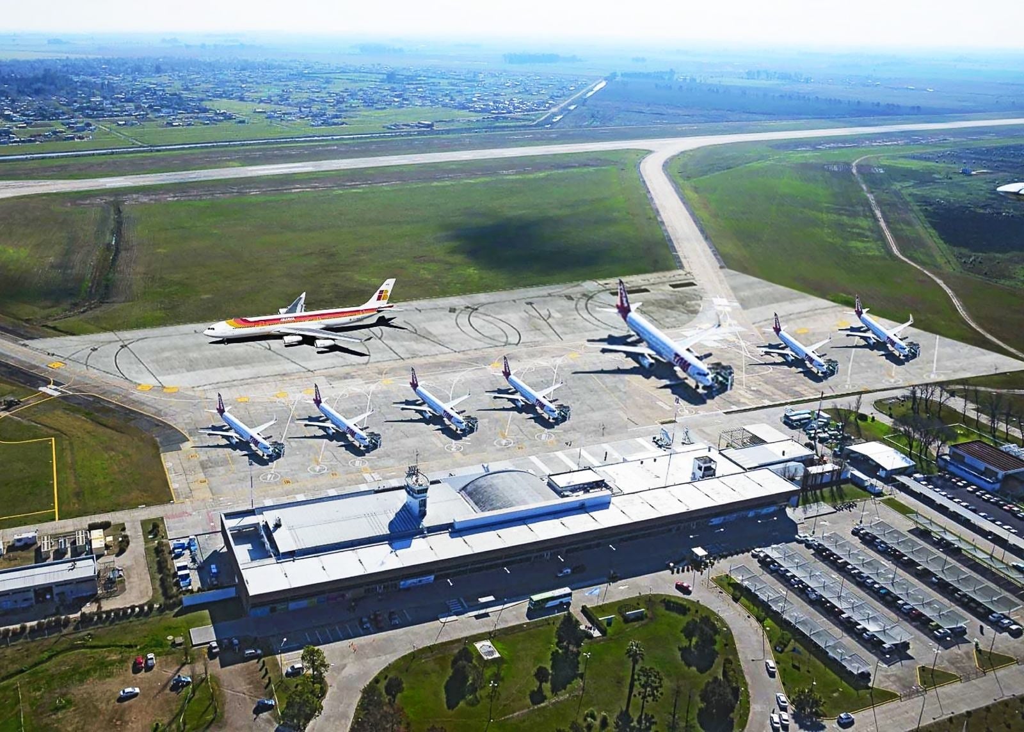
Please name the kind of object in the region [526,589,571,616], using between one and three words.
bus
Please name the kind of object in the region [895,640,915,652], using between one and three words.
vehicle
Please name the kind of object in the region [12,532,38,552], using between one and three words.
building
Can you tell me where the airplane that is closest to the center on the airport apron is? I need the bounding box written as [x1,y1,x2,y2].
[481,354,562,419]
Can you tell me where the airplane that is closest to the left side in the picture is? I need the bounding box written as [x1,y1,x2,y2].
[195,391,275,457]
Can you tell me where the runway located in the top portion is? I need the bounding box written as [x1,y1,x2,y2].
[0,119,1024,198]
